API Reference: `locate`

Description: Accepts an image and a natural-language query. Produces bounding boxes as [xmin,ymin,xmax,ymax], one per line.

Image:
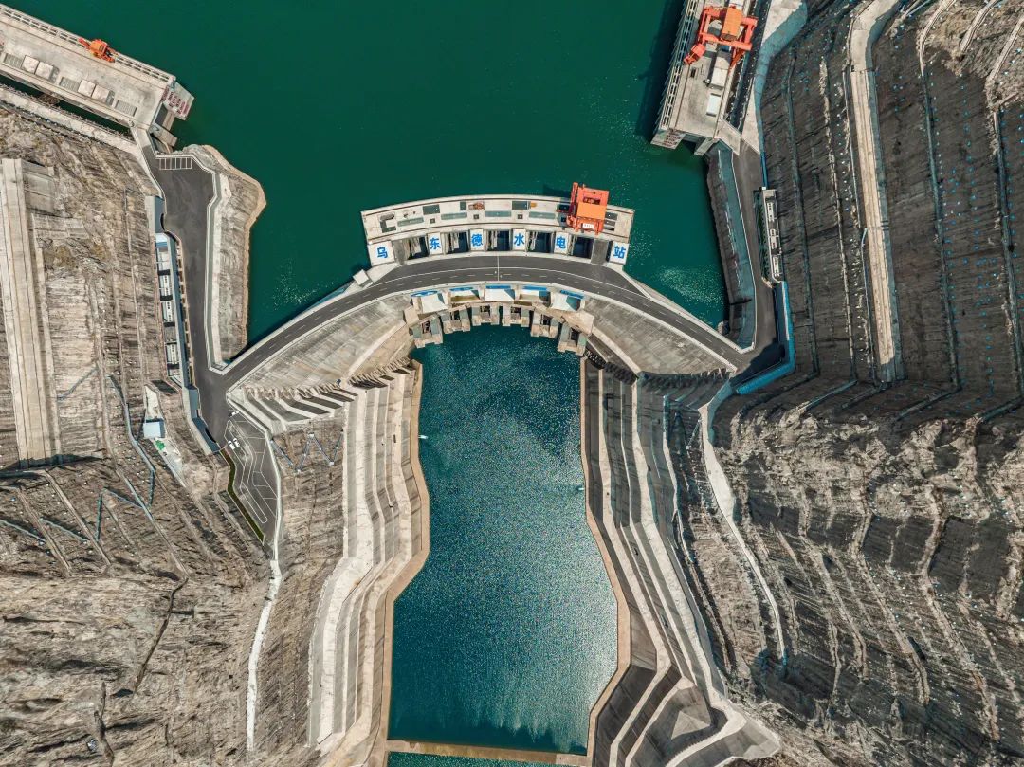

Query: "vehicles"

[233,438,240,447]
[227,441,234,450]
[230,409,239,416]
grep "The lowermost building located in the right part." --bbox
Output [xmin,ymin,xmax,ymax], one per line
[756,184,790,284]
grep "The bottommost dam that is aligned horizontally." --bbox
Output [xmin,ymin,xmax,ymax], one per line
[383,734,594,767]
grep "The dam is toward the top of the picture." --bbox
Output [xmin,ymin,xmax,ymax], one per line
[223,194,744,388]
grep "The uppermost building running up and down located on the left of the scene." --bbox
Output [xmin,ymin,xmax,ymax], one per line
[155,233,194,388]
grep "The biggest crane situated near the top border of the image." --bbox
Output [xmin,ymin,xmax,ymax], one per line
[682,1,758,71]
